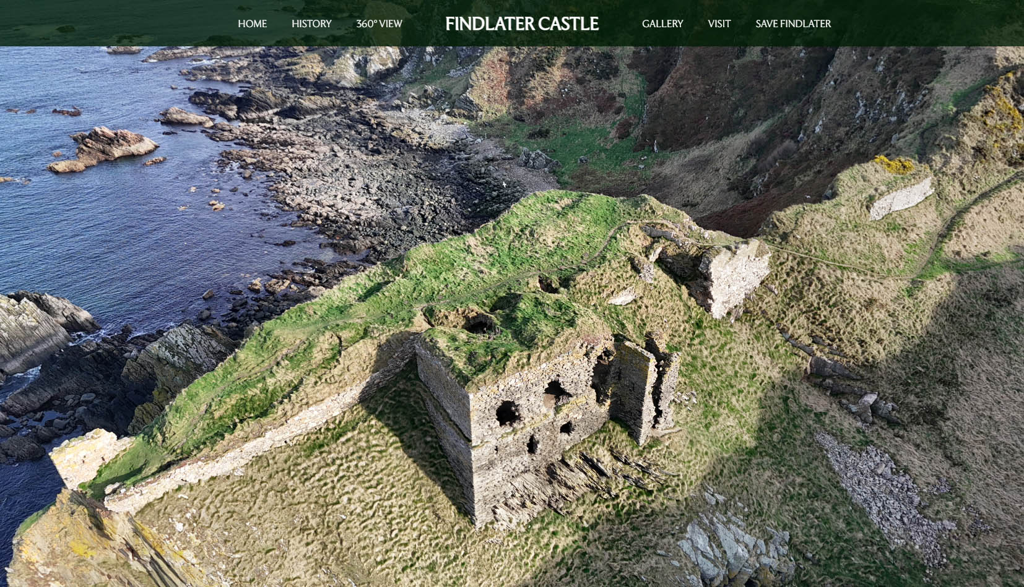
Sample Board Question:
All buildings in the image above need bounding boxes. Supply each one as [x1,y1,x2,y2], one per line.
[414,260,664,538]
